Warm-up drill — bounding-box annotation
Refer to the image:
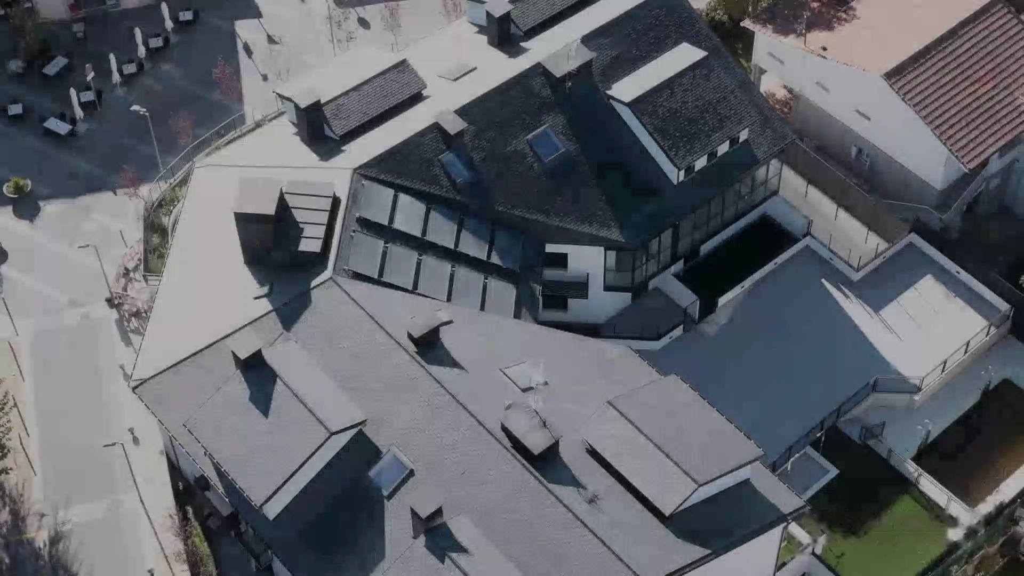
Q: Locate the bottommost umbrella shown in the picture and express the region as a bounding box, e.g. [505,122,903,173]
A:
[69,81,88,124]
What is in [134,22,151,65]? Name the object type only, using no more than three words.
umbrella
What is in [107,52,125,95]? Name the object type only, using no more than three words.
umbrella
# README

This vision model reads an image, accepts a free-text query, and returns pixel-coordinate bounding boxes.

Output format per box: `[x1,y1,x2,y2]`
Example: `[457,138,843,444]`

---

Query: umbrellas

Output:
[161,0,178,37]
[107,52,125,95]
[134,22,151,65]
[69,81,88,124]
